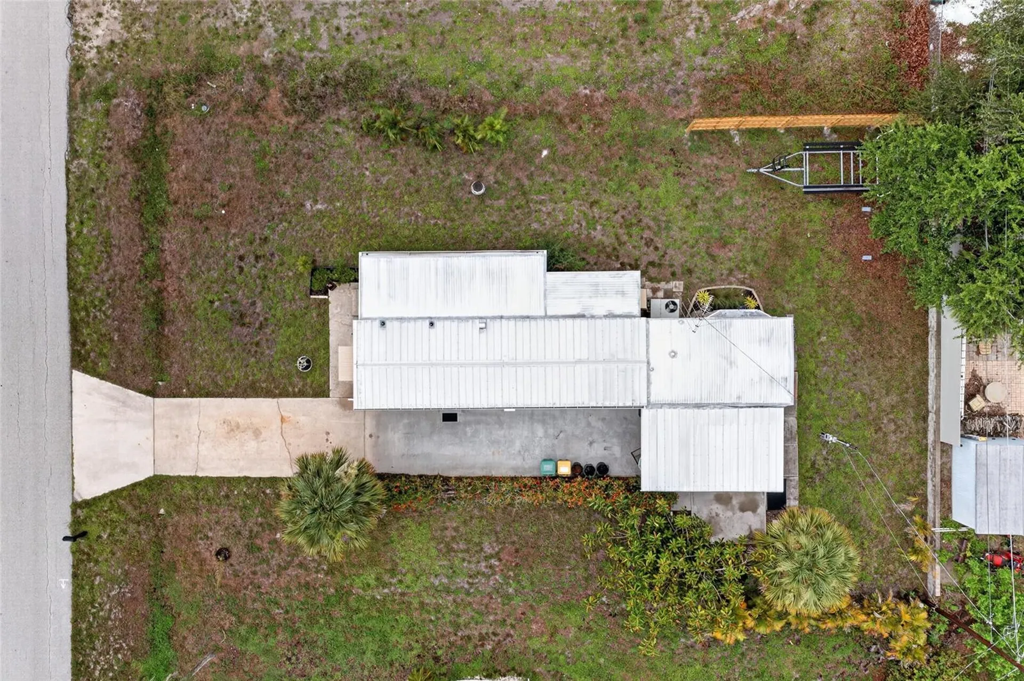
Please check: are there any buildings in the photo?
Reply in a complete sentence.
Yes, a building can be made out from above.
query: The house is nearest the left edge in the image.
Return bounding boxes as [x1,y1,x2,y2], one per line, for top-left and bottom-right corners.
[339,249,795,493]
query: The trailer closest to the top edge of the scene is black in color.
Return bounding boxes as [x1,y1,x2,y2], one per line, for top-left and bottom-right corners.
[747,132,889,197]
